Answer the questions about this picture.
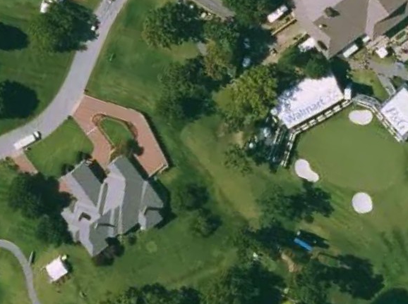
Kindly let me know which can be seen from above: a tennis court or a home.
home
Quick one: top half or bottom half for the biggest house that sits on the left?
bottom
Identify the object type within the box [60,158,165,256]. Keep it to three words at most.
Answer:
house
